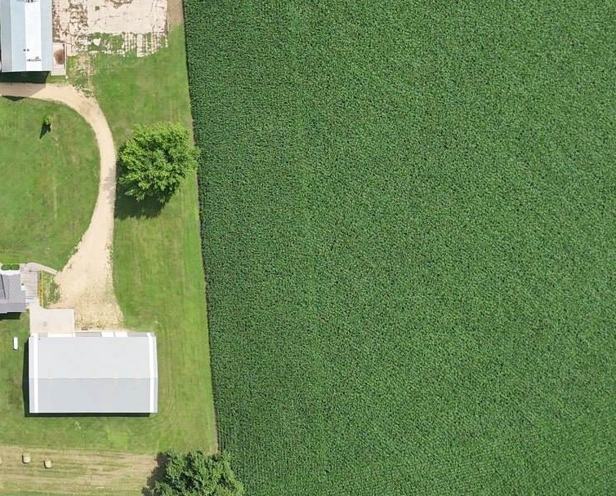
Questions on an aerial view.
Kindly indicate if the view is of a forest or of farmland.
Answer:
farmland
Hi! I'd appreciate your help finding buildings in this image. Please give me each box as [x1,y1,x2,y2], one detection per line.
[0,0,53,72]
[0,266,26,313]
[29,332,159,413]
